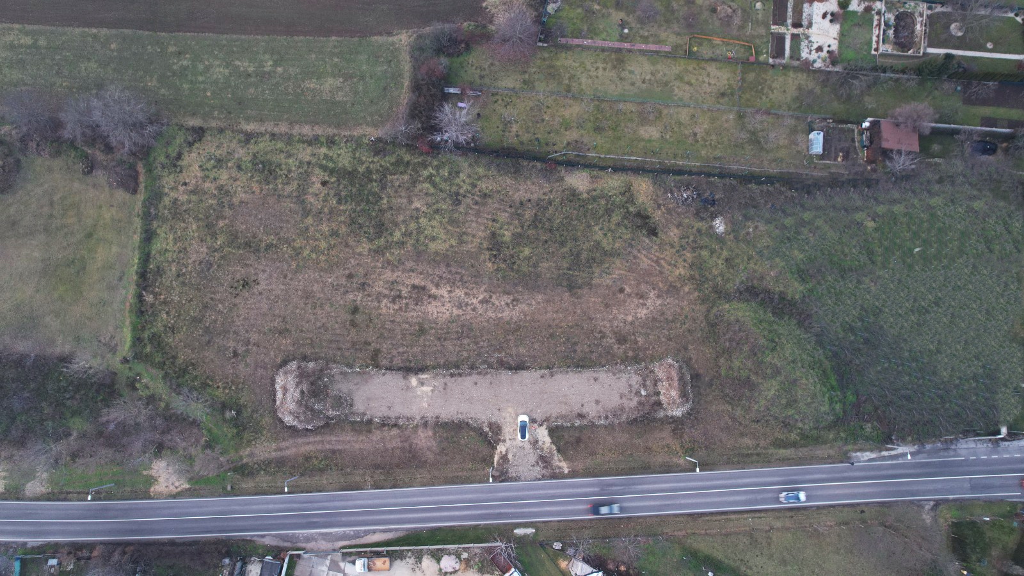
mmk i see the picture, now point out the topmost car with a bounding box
[517,414,530,442]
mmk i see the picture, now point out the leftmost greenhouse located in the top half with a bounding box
[810,129,826,154]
